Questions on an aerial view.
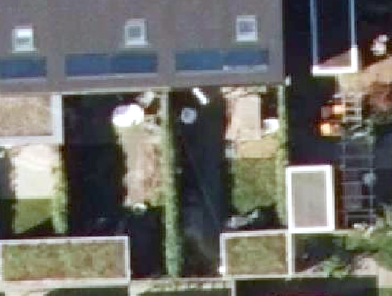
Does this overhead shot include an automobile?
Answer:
No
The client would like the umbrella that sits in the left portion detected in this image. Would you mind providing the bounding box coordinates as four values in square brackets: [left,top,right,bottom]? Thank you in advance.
[113,100,143,130]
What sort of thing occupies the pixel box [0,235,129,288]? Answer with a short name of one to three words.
shed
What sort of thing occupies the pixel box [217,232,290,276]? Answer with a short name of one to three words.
shed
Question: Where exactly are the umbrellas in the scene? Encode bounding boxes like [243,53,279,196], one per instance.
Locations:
[266,119,278,132]
[113,100,143,130]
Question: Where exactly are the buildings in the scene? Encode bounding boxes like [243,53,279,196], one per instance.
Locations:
[286,164,335,232]
[311,0,358,73]
[0,235,129,288]
[0,0,289,145]
[217,232,290,276]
